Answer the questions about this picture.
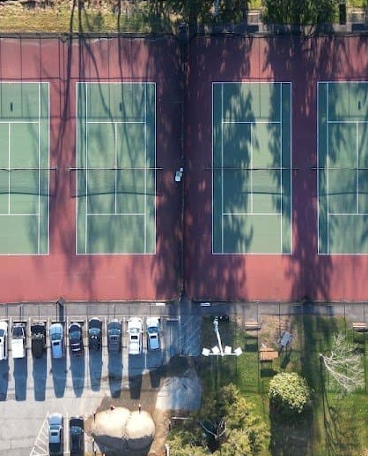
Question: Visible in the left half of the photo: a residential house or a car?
car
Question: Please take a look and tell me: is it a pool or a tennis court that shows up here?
tennis court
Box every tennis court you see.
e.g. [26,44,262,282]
[75,82,156,256]
[0,82,49,256]
[212,82,293,256]
[317,82,368,256]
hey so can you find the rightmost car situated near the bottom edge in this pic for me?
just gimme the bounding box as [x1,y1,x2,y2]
[68,418,86,456]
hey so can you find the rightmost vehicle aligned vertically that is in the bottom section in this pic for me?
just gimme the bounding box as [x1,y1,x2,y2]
[145,315,161,349]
